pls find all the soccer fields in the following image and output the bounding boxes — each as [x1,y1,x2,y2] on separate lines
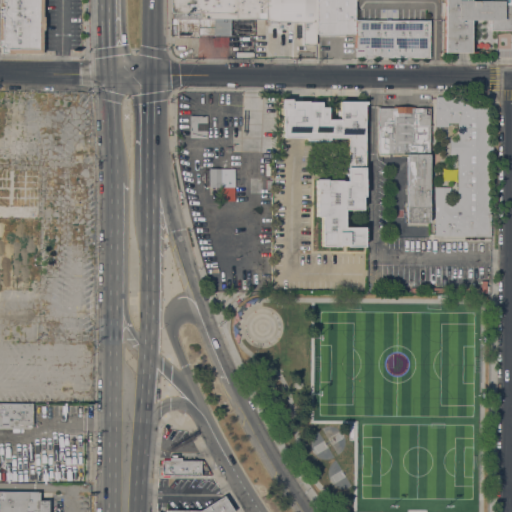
[362,425,474,500]
[321,312,474,416]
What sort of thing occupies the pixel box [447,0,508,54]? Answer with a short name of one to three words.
building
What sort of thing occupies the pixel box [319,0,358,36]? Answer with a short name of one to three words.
building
